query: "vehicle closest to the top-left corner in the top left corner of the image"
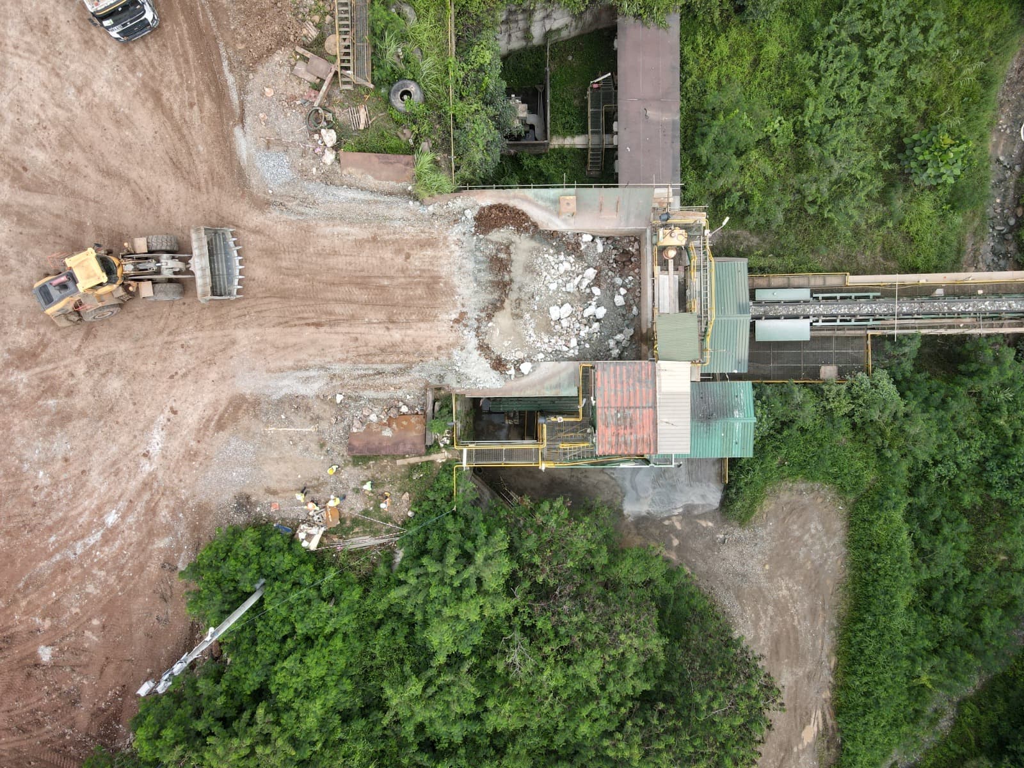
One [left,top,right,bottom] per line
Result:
[82,0,162,49]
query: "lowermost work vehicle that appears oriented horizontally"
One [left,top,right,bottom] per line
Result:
[27,226,247,338]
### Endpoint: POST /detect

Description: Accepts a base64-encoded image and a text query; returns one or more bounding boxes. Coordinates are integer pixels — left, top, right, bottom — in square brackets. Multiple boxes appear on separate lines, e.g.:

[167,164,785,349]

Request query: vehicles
[82,0,162,49]
[27,226,247,338]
